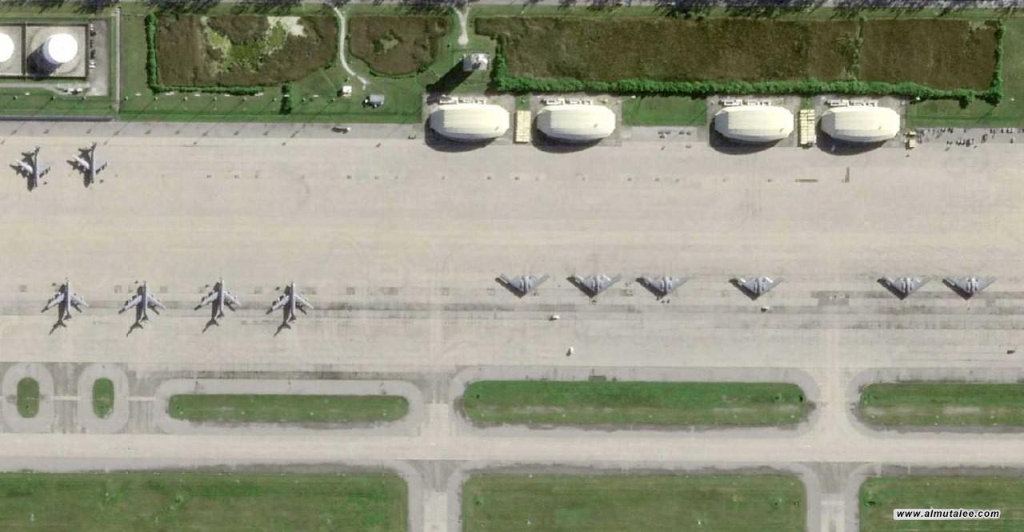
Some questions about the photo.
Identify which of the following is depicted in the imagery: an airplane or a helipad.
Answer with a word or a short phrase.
airplane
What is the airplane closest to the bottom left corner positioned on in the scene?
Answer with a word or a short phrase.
apron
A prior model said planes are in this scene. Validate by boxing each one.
[49,281,89,322]
[881,277,933,298]
[499,273,551,294]
[74,139,114,182]
[734,276,786,297]
[126,282,166,324]
[946,277,998,298]
[17,144,57,187]
[203,280,243,321]
[571,274,623,294]
[274,283,314,324]
[640,274,692,295]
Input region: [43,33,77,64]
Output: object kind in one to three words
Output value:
storage tank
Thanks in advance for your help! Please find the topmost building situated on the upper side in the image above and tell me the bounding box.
[462,53,489,73]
